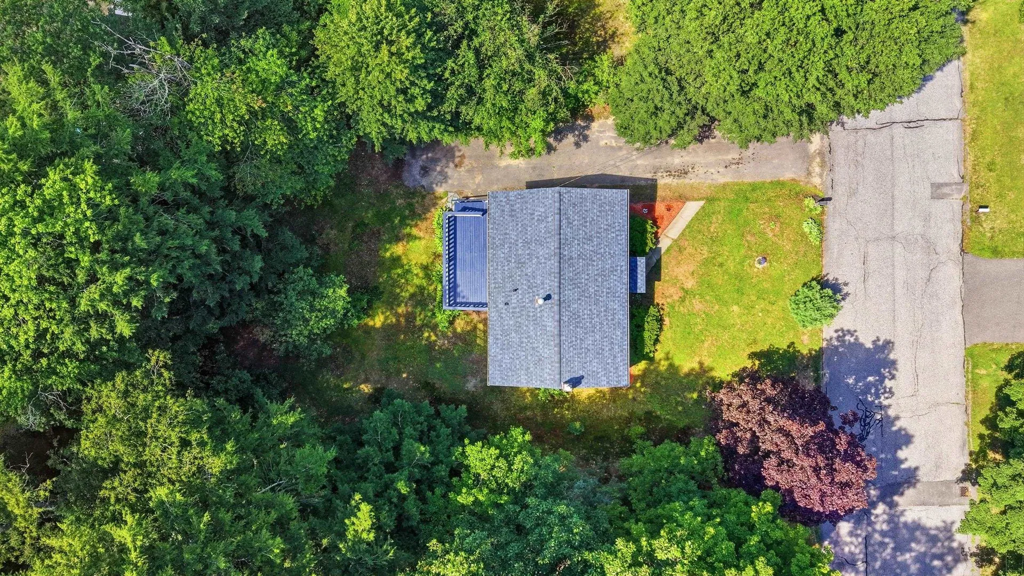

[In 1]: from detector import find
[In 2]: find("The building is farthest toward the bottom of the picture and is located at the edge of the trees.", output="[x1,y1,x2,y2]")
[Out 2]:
[486,189,646,395]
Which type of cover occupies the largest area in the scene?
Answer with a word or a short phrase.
trees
